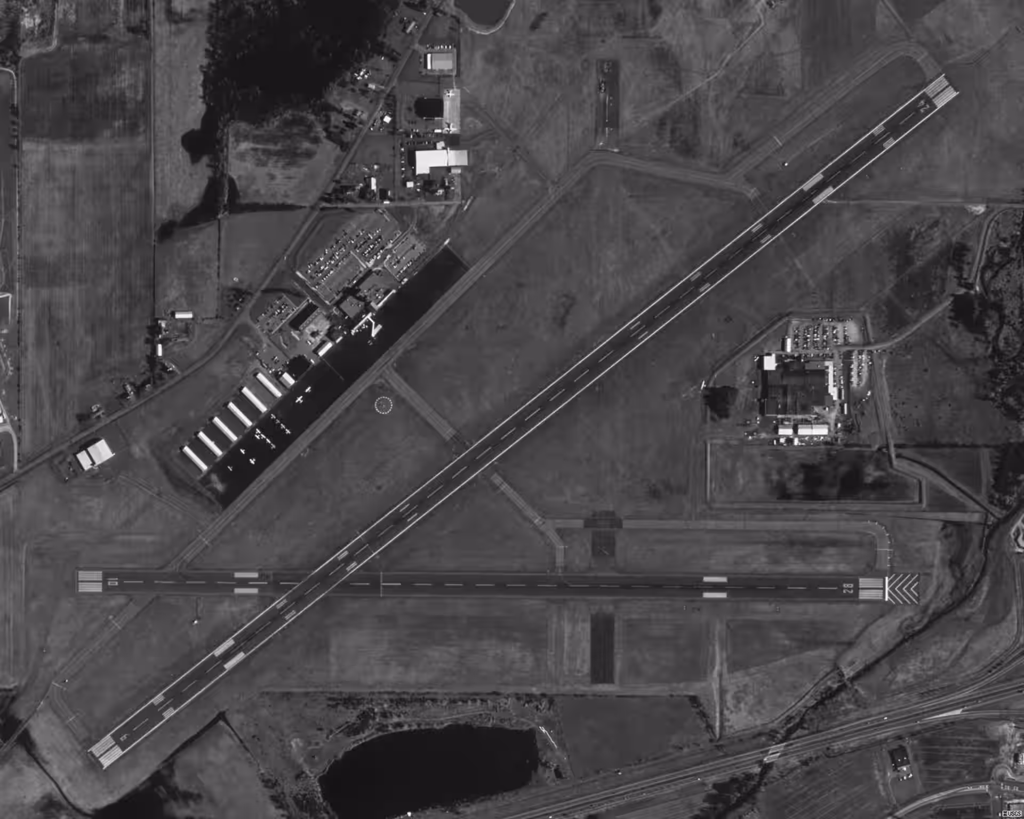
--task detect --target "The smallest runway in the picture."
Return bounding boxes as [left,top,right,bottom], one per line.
[77,570,887,601]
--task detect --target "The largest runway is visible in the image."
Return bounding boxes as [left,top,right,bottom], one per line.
[87,72,960,772]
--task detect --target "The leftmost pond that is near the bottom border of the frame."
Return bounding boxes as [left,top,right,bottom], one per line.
[318,723,540,819]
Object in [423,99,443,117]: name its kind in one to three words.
hangar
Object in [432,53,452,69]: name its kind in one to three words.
building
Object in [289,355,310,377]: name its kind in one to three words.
hangar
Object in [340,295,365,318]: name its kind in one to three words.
building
